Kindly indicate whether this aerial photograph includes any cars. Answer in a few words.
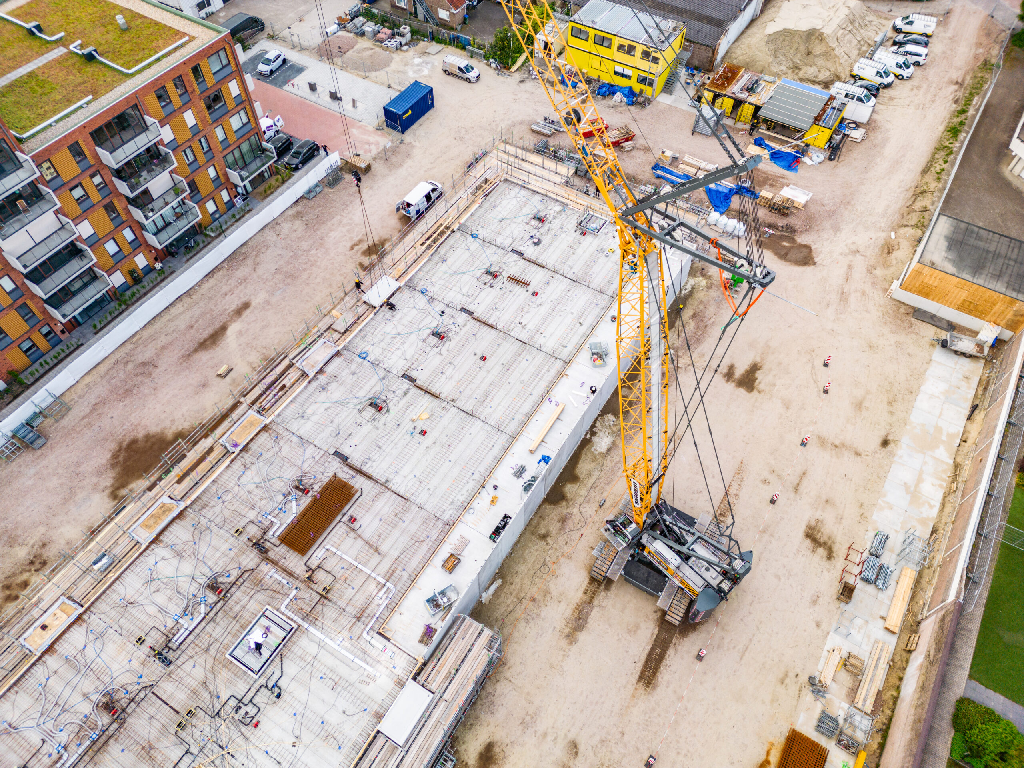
Yes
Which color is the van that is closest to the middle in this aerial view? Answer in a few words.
white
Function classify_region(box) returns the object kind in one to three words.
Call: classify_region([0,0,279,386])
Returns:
building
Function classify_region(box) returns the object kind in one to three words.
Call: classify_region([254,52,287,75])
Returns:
car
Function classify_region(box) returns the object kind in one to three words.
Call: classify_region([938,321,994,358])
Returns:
trailer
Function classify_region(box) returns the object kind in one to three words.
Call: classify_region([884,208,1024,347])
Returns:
building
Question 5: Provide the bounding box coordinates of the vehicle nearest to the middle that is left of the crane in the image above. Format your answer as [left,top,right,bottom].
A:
[391,182,440,220]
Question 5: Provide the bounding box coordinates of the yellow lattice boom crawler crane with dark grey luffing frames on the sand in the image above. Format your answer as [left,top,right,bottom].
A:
[496,0,829,627]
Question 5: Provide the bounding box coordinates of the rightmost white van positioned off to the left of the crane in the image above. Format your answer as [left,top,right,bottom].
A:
[443,53,480,81]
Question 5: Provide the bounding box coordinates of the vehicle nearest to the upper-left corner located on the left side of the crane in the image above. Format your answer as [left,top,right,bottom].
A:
[218,13,261,37]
